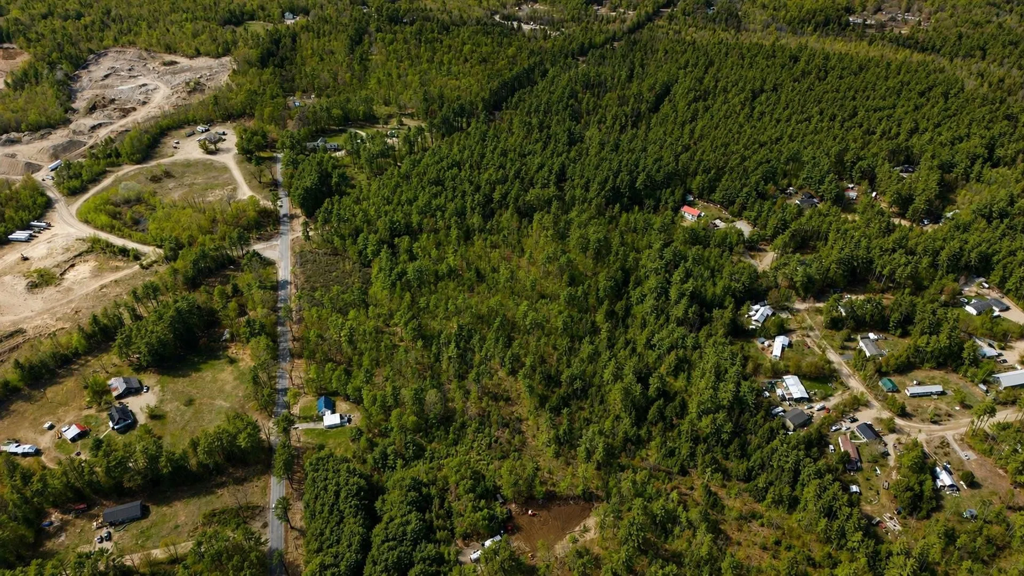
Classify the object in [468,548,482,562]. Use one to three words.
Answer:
vehicle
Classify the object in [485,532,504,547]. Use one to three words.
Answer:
vehicle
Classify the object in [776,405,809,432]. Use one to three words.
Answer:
building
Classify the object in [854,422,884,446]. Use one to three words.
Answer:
house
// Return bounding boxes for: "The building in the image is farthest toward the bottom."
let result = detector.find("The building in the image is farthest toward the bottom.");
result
[94,497,145,532]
